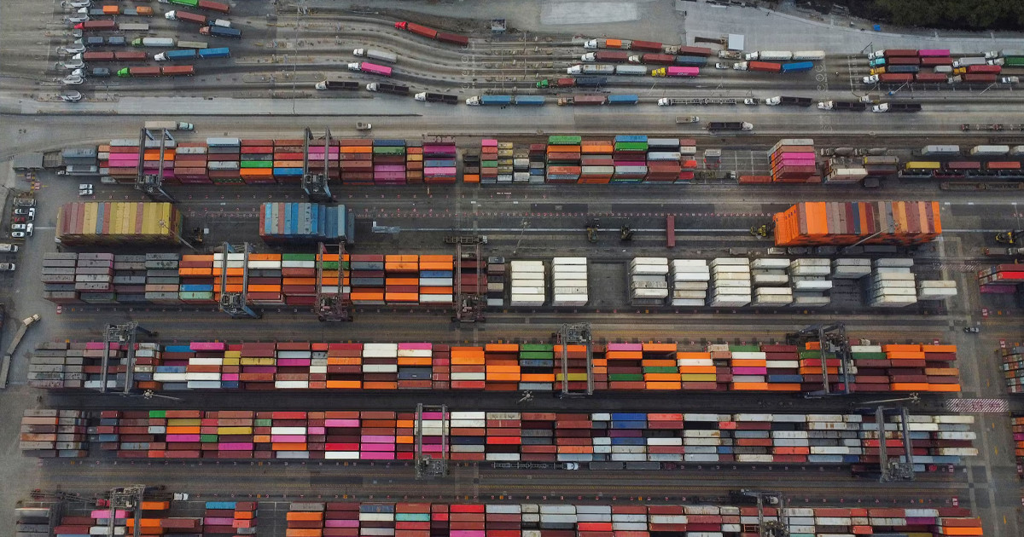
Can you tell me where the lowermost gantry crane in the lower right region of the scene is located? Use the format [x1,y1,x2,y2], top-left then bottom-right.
[729,485,787,537]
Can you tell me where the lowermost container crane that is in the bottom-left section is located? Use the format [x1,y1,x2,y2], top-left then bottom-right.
[107,481,171,537]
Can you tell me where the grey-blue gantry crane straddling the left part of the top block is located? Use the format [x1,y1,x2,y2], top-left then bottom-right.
[134,129,188,206]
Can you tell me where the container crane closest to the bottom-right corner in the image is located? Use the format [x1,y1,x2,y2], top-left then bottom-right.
[842,405,915,480]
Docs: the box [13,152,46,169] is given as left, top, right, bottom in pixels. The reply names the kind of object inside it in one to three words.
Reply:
shed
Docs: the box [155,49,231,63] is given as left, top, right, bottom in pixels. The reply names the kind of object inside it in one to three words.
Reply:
vehicle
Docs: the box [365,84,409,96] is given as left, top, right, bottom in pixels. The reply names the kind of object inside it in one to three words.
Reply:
vehicle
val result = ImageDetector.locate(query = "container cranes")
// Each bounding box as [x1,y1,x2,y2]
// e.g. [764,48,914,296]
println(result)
[134,129,188,206]
[98,323,163,397]
[842,405,915,480]
[316,242,355,326]
[107,481,171,537]
[416,402,452,479]
[300,129,336,205]
[551,322,594,399]
[729,485,787,537]
[788,323,851,398]
[218,243,266,322]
